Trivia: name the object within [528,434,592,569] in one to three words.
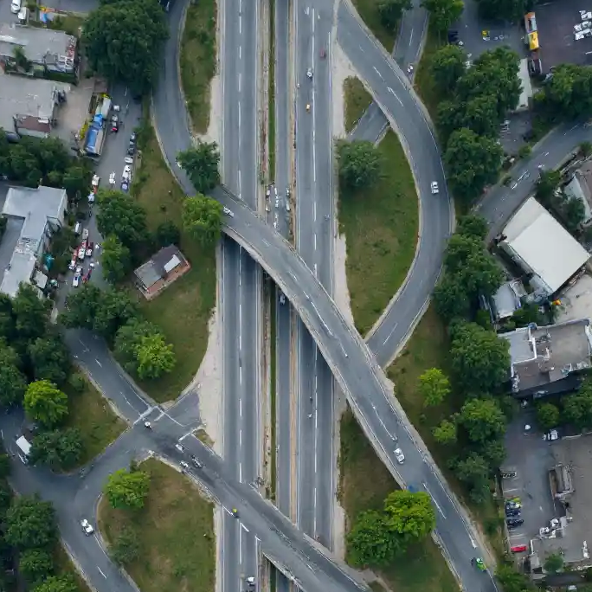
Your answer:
building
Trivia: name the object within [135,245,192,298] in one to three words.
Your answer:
house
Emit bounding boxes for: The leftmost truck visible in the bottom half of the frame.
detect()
[12,434,36,458]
